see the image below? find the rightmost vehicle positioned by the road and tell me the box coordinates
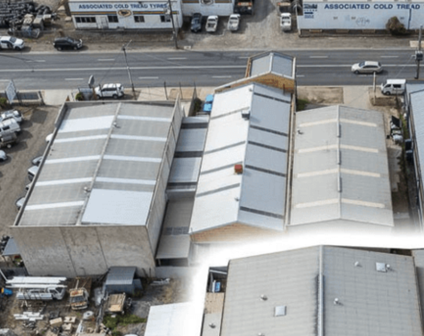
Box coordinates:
[377,80,410,97]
